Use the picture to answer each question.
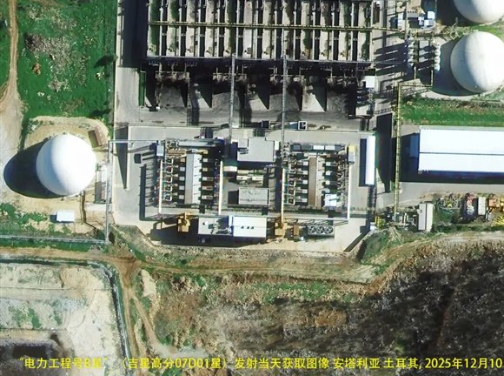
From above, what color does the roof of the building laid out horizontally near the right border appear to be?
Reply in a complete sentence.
The roof over the building laid out horizontally near the right border appears white.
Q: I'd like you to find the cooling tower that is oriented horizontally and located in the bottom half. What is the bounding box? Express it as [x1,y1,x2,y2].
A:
[307,224,334,237]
